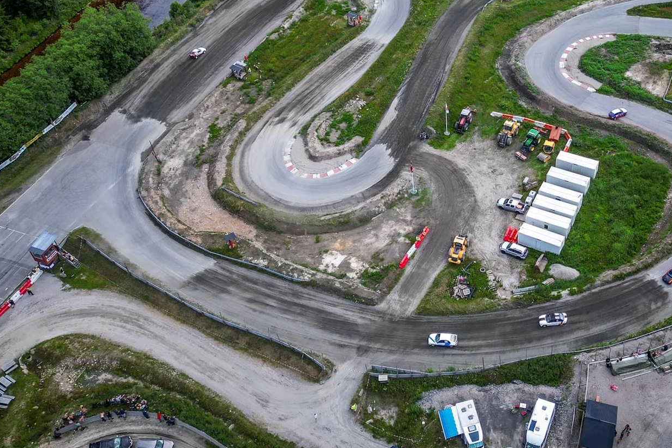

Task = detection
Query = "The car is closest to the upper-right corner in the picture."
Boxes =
[606,108,628,121]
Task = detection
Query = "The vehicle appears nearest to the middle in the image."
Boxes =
[448,230,472,262]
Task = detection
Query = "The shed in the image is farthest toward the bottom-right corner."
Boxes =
[569,399,617,448]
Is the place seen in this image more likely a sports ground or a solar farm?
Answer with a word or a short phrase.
sports ground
